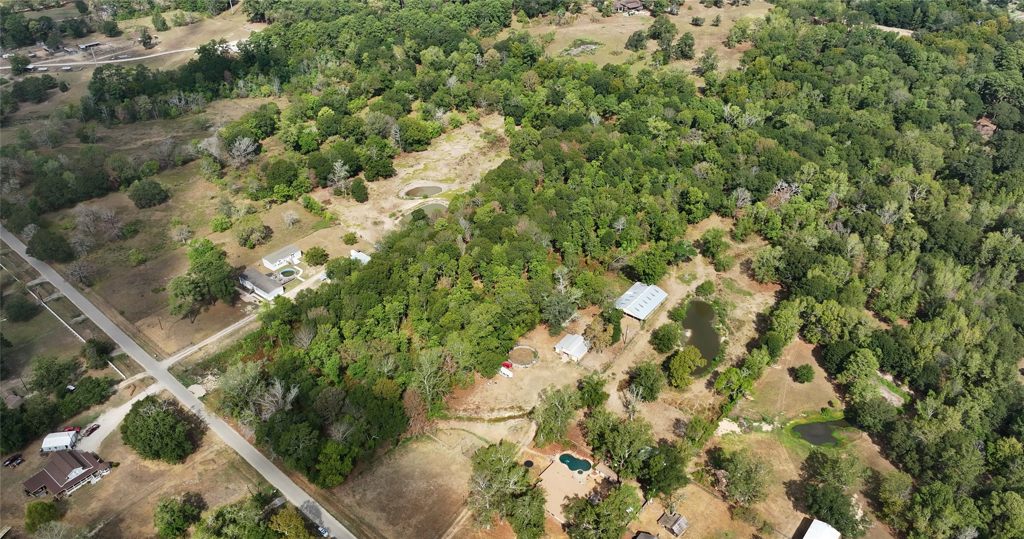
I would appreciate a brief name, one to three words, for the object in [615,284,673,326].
barn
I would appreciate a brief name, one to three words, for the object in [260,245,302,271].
house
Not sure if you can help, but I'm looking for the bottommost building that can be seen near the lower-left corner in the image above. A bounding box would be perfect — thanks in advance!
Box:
[23,452,114,501]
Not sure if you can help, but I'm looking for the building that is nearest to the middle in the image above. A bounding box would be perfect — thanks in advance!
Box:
[553,334,593,364]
